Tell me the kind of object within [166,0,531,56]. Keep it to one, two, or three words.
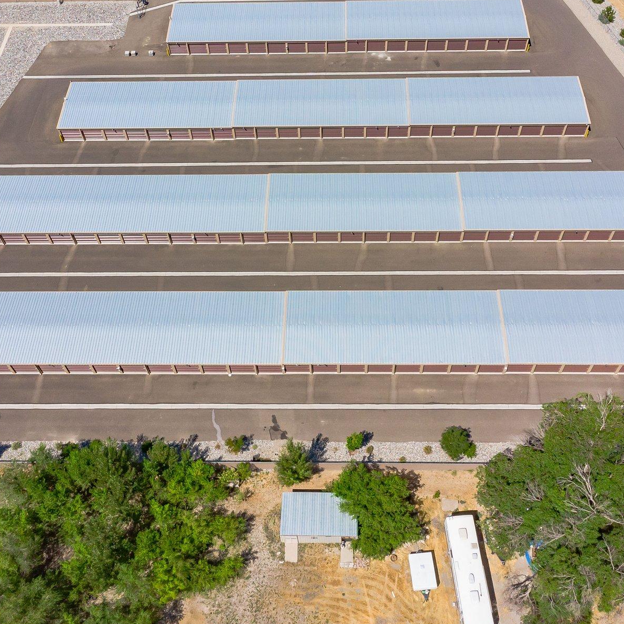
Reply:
building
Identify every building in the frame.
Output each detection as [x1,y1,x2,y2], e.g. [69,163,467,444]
[0,171,624,246]
[166,0,531,56]
[56,76,593,142]
[0,289,624,376]
[280,492,358,545]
